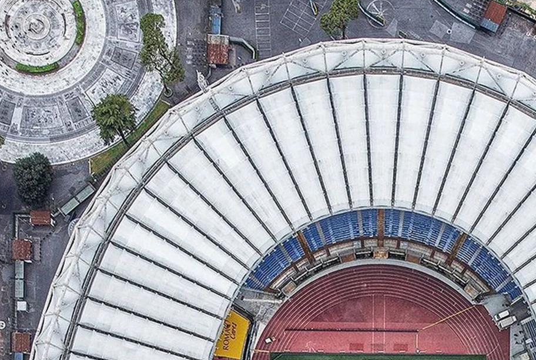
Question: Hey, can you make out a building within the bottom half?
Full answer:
Yes, a building appears within the bottom half.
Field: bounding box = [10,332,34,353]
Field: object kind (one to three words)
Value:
building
